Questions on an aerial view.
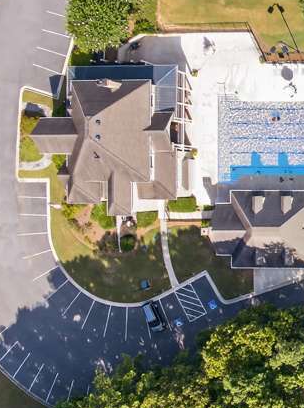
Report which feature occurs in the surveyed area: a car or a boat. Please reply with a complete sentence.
It is a car that can be seen here.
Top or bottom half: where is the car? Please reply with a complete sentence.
The bottom half of the photo is where the car is.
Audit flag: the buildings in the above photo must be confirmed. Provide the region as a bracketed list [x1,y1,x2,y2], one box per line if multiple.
[31,65,194,216]
[210,190,304,268]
